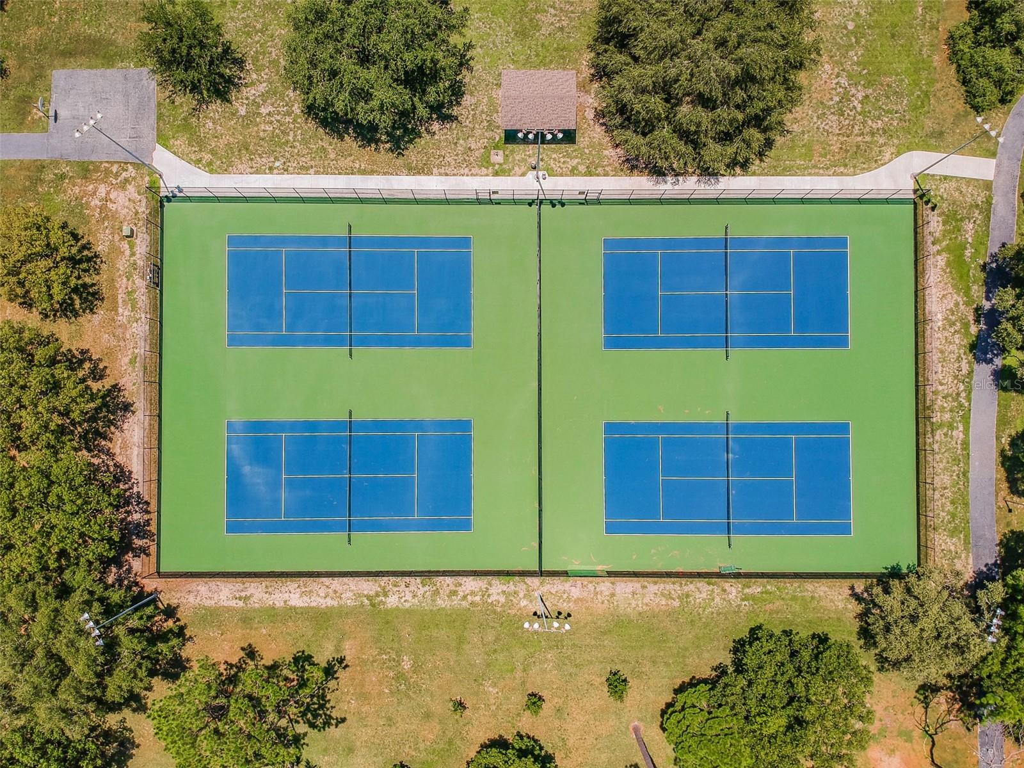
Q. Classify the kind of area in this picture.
sports ground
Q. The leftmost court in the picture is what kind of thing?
basketball court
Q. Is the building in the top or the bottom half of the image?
top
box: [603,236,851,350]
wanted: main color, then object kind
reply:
blue tennis court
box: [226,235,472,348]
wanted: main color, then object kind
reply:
blue tennis court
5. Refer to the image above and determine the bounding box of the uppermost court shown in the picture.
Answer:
[48,68,156,163]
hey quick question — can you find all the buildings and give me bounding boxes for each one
[502,70,577,141]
